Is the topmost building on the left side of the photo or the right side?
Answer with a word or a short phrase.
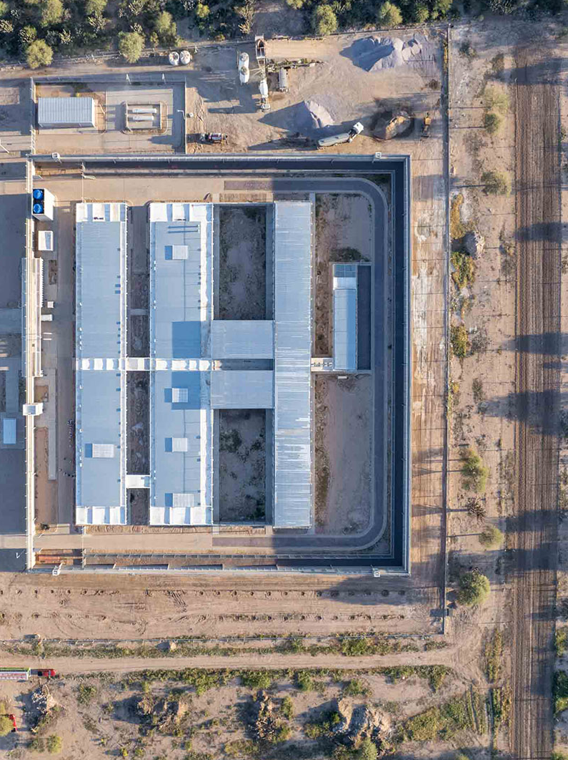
left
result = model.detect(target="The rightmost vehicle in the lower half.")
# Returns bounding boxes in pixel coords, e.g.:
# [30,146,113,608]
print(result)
[37,670,57,683]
